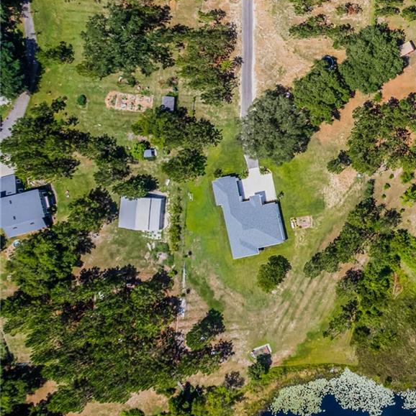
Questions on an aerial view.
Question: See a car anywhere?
No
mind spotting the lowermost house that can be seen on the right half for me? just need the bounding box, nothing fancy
[212,175,287,259]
